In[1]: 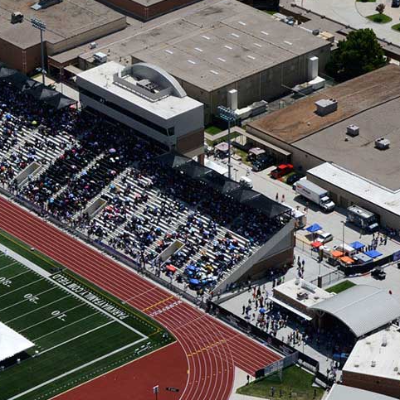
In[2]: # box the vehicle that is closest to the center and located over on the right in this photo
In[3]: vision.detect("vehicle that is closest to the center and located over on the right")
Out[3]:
[235,170,255,186]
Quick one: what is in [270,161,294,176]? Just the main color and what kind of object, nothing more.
red vehicle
